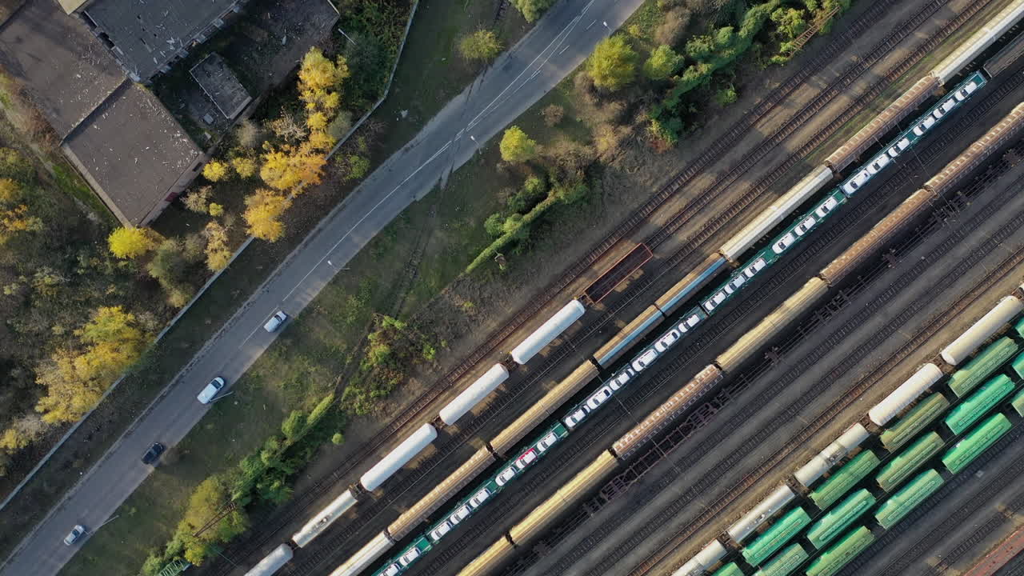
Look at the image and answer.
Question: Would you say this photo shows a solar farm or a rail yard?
rail yard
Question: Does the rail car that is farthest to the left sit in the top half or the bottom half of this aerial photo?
bottom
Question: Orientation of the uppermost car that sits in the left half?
at an angle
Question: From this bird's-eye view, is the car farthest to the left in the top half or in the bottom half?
bottom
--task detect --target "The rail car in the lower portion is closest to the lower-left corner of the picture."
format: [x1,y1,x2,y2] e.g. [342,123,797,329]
[243,537,299,576]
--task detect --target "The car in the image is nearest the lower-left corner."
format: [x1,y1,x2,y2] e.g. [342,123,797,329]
[64,523,86,545]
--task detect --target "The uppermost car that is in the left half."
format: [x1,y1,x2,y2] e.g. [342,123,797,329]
[263,311,287,333]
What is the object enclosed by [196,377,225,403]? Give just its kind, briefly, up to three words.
vehicle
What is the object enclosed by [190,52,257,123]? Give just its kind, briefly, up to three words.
shed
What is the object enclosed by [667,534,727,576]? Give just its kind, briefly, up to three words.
rail car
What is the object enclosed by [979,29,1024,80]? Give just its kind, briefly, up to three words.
rail car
